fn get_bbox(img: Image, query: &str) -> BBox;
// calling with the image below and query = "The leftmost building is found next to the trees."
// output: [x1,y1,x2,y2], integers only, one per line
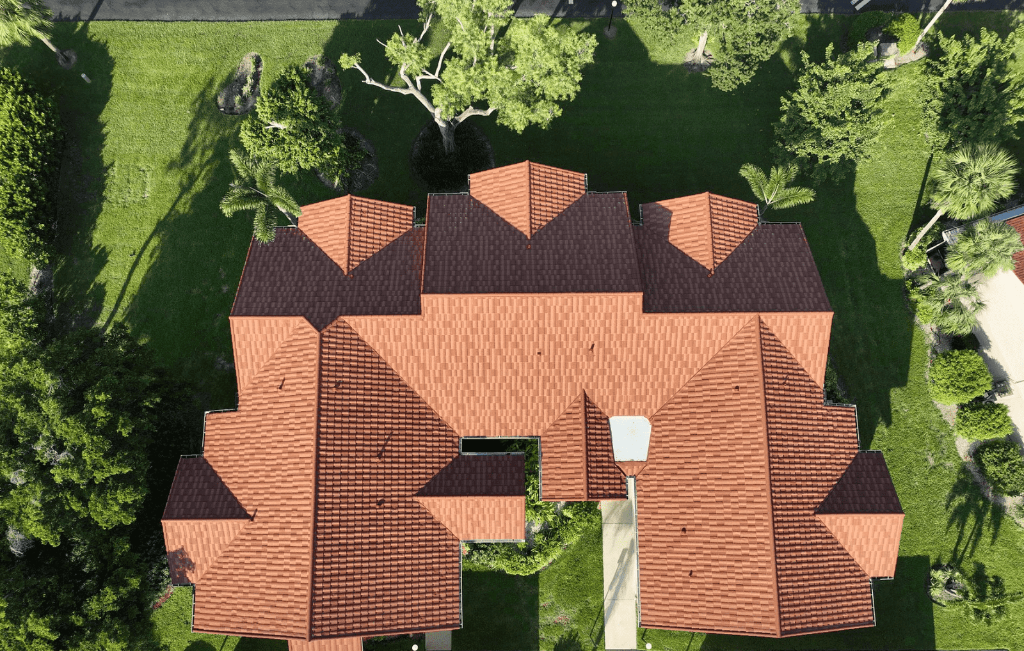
[161,160,906,651]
